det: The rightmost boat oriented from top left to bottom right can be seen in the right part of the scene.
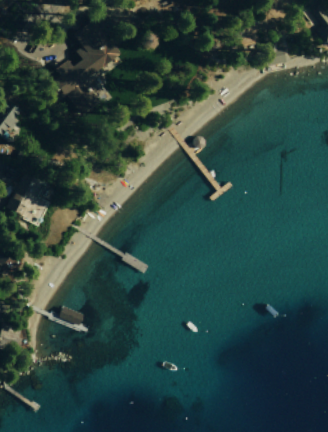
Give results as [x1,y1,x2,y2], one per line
[264,302,282,318]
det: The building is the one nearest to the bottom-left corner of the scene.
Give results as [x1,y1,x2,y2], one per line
[0,326,24,350]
